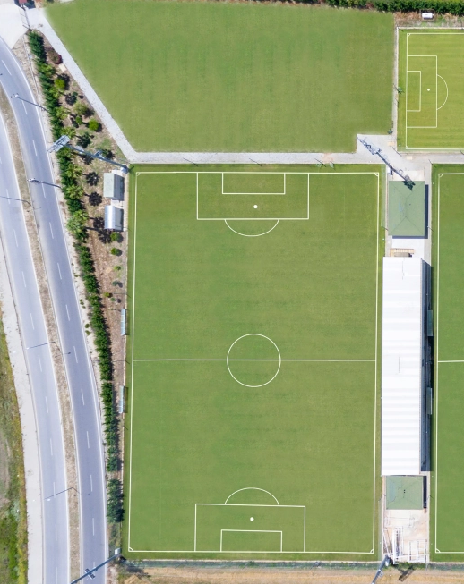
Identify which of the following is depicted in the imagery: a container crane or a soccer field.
soccer field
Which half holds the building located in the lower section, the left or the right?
right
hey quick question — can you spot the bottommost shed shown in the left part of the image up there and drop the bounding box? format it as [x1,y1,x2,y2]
[105,206,124,231]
